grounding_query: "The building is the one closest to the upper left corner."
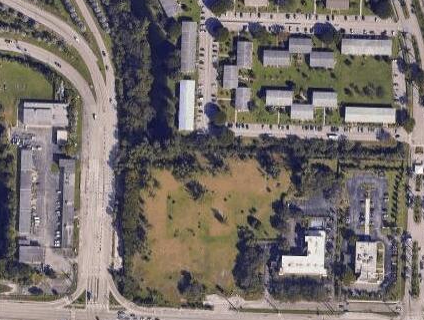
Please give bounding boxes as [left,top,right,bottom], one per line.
[23,102,67,126]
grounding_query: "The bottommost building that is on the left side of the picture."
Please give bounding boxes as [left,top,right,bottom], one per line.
[19,247,44,263]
